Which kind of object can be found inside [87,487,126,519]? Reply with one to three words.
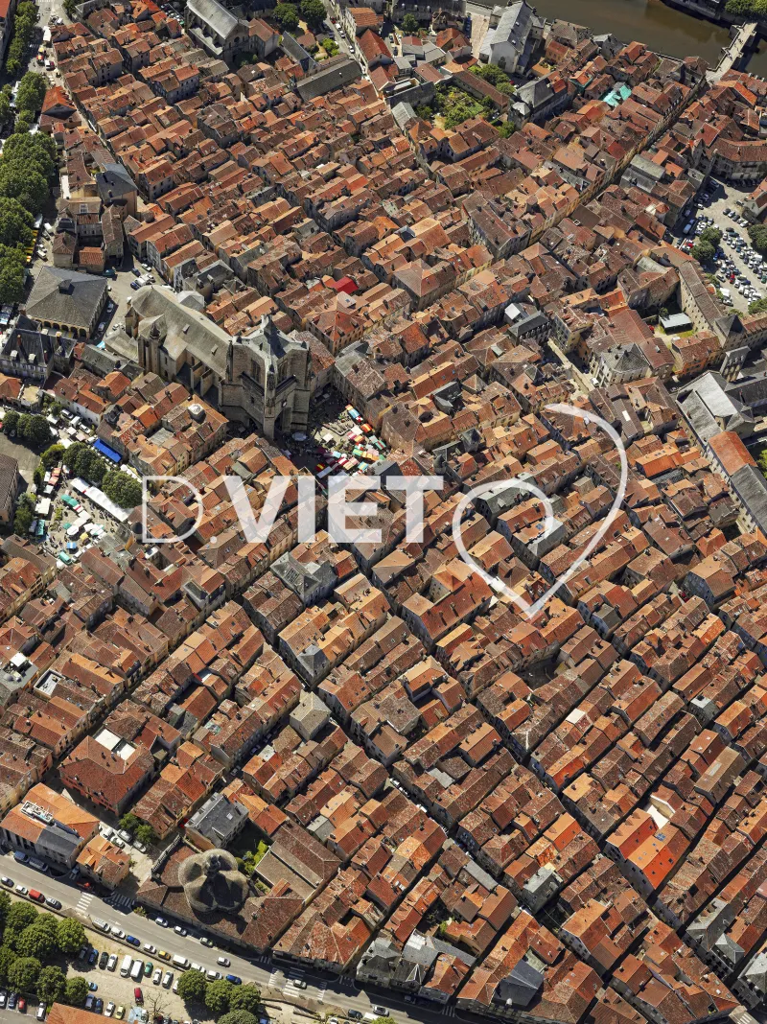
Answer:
tent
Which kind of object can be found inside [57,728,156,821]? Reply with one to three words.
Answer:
building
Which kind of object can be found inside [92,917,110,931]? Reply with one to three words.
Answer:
vehicle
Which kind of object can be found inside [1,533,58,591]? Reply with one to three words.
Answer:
house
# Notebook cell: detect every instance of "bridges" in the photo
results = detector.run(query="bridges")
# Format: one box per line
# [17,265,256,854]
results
[708,20,758,88]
